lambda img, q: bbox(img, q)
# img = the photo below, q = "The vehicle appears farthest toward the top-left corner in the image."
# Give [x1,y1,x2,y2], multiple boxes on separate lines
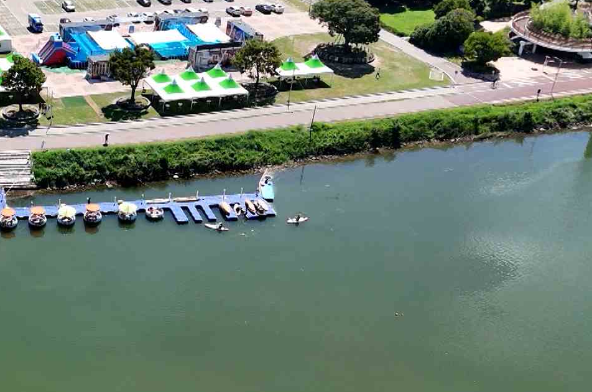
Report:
[27,10,43,32]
